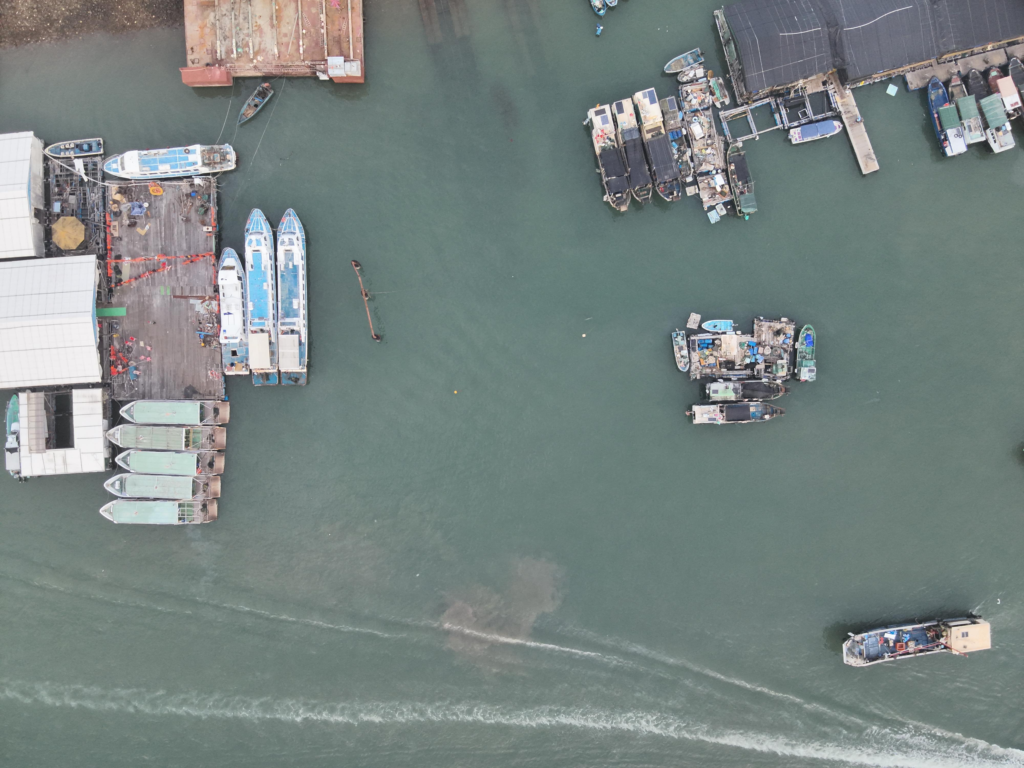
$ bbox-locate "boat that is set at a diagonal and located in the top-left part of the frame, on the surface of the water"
[237,82,274,124]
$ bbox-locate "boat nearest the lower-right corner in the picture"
[840,612,991,667]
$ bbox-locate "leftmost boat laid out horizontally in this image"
[46,137,104,157]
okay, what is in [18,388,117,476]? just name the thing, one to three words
house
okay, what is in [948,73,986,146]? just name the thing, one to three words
boat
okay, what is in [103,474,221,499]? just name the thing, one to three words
ship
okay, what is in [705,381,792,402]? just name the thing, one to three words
boat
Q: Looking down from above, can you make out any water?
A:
Yes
